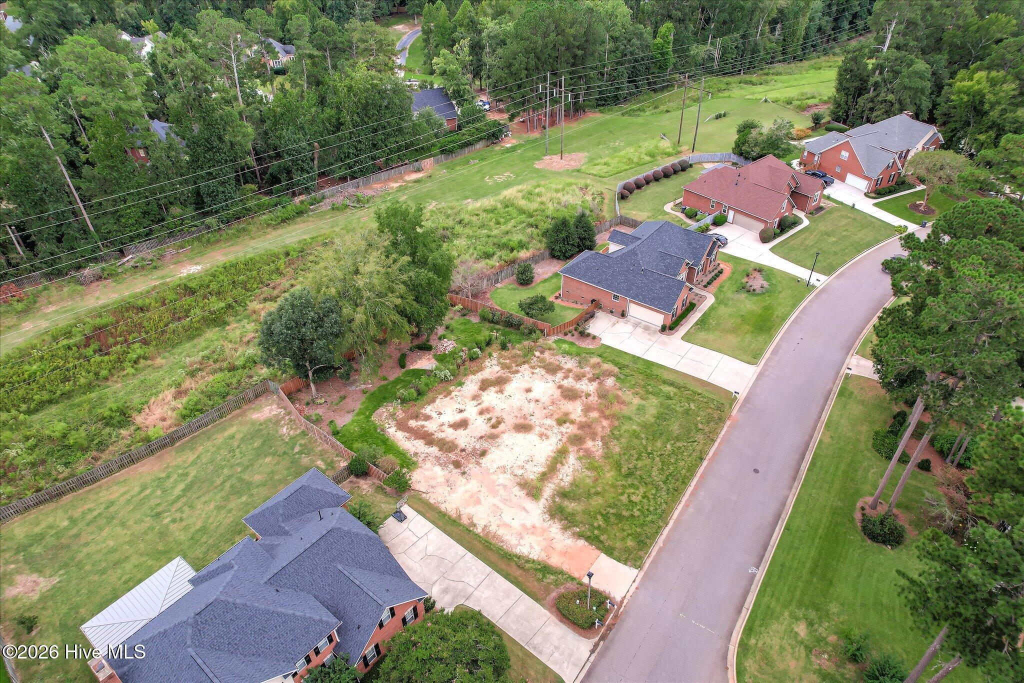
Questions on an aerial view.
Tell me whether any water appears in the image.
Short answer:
No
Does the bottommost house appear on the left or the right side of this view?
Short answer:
left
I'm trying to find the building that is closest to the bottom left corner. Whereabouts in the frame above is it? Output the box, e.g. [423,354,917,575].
[80,468,428,683]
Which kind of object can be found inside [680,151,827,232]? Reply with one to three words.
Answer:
house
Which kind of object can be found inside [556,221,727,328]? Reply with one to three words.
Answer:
house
